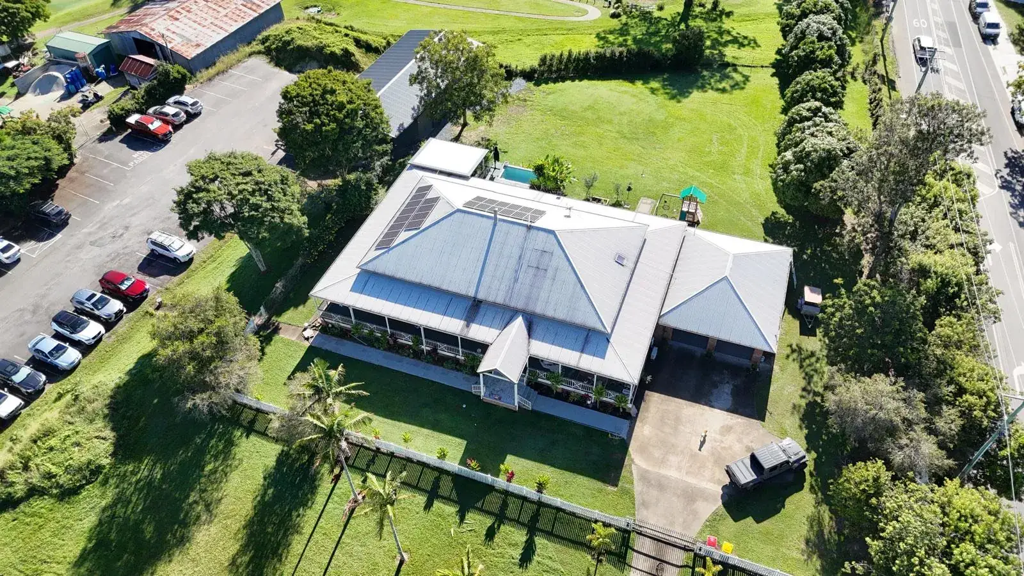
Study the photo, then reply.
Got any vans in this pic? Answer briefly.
Yes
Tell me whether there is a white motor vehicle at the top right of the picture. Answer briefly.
Yes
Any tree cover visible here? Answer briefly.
Yes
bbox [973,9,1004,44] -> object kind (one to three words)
van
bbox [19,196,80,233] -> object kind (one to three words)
car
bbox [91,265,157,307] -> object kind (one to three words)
car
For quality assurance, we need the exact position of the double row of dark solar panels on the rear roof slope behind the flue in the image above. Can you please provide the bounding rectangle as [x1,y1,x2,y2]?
[460,197,545,223]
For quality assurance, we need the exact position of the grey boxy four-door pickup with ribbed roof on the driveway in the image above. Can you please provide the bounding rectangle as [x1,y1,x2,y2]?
[721,439,816,496]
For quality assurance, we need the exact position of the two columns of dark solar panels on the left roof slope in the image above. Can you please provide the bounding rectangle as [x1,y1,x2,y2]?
[373,185,442,251]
